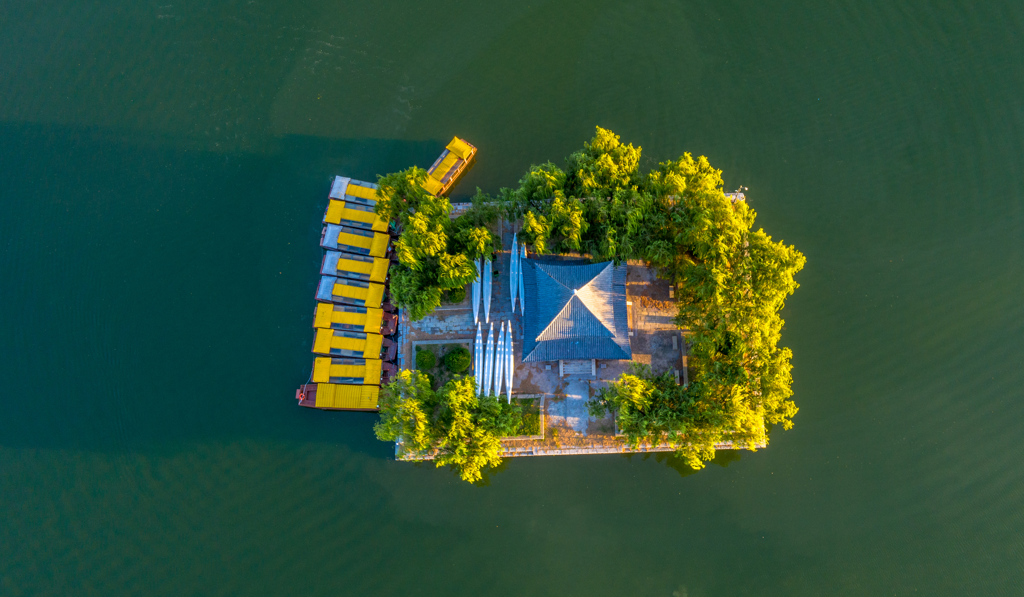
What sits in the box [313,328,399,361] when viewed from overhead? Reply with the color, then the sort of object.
yellow boat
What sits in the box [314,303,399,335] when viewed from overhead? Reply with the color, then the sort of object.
yellow boat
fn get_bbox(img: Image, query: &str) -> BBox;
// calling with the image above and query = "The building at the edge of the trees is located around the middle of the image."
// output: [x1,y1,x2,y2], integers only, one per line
[522,256,637,376]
